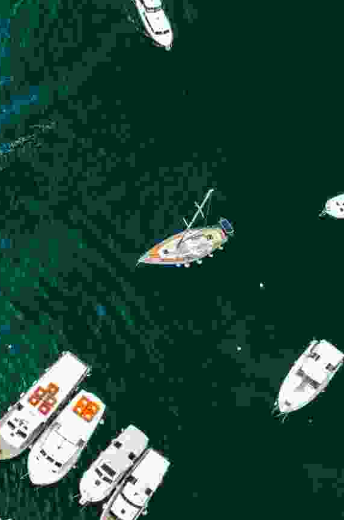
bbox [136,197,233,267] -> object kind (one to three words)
boat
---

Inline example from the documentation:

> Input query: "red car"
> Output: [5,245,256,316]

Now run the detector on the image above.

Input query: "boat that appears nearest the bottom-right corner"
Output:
[275,338,341,412]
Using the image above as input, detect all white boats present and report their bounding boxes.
[78,422,150,510]
[139,0,173,51]
[275,338,341,412]
[101,447,171,520]
[0,346,91,457]
[322,197,344,219]
[33,387,108,484]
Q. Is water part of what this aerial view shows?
Yes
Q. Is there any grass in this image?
No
